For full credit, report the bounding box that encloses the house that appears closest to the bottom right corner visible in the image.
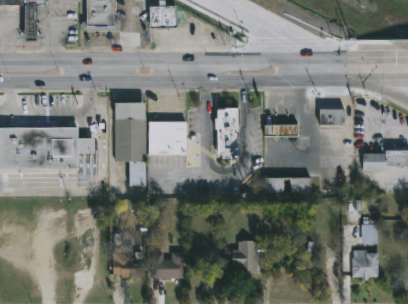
[352,250,379,281]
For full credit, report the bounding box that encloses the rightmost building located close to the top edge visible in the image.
[150,1,178,29]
